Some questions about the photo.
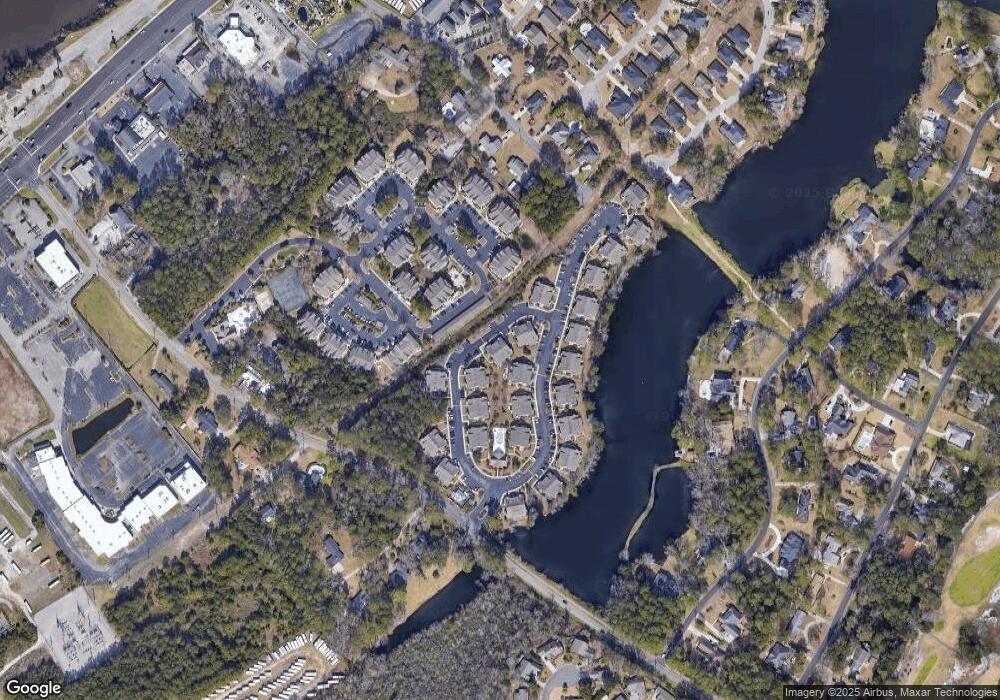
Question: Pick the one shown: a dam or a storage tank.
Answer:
dam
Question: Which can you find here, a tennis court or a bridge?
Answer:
tennis court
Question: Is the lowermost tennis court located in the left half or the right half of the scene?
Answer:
left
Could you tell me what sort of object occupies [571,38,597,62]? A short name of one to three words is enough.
house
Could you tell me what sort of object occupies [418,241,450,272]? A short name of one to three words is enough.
building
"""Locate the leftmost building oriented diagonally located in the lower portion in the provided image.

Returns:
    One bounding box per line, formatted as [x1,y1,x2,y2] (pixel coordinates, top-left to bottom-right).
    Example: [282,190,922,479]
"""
[31,446,134,557]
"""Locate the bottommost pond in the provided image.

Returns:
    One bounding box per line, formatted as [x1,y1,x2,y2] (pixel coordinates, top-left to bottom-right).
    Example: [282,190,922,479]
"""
[373,567,484,655]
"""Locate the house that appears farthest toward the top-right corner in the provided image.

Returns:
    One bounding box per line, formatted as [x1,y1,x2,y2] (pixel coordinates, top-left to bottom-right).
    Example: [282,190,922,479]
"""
[953,50,978,68]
